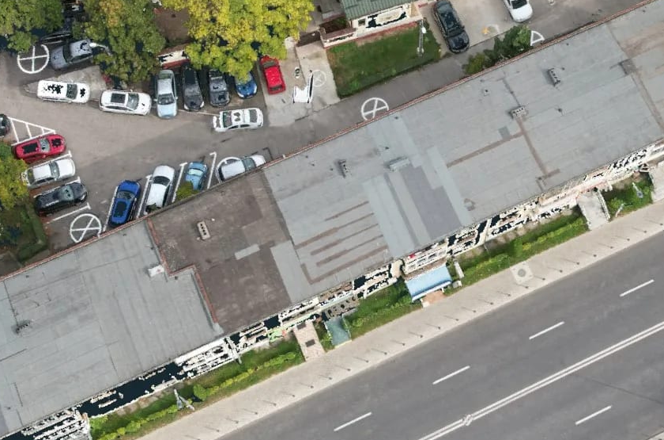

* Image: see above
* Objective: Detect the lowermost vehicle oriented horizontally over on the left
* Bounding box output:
[32,182,89,216]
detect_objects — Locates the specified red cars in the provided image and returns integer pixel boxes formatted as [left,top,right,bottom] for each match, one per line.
[261,56,284,96]
[11,132,67,164]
